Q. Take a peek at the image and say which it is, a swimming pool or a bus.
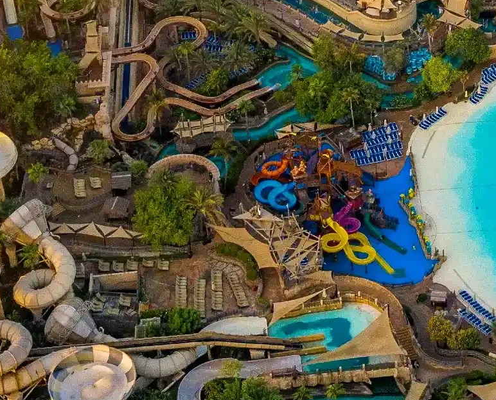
swimming pool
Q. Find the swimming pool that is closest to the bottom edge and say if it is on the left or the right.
right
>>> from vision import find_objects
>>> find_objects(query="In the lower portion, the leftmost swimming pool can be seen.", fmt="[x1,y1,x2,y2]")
[272,302,382,367]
